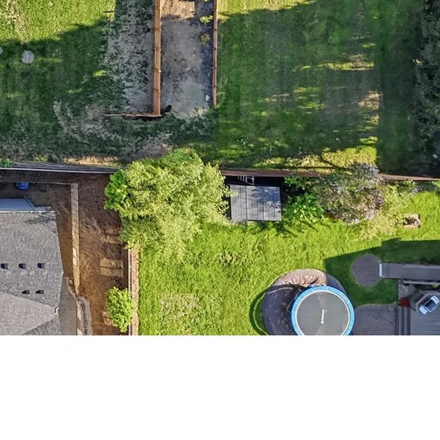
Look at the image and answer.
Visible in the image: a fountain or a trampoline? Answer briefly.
trampoline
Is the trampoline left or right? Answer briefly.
right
